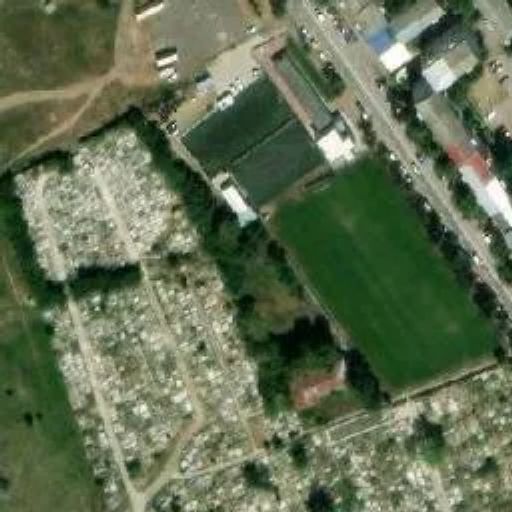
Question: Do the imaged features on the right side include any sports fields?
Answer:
Yes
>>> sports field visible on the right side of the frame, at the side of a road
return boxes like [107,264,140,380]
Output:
[272,158,502,400]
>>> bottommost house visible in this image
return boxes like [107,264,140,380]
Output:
[290,376,326,408]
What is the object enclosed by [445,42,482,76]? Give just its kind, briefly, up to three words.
house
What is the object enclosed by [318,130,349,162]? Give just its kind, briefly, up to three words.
building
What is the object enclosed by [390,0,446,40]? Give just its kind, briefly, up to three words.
building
